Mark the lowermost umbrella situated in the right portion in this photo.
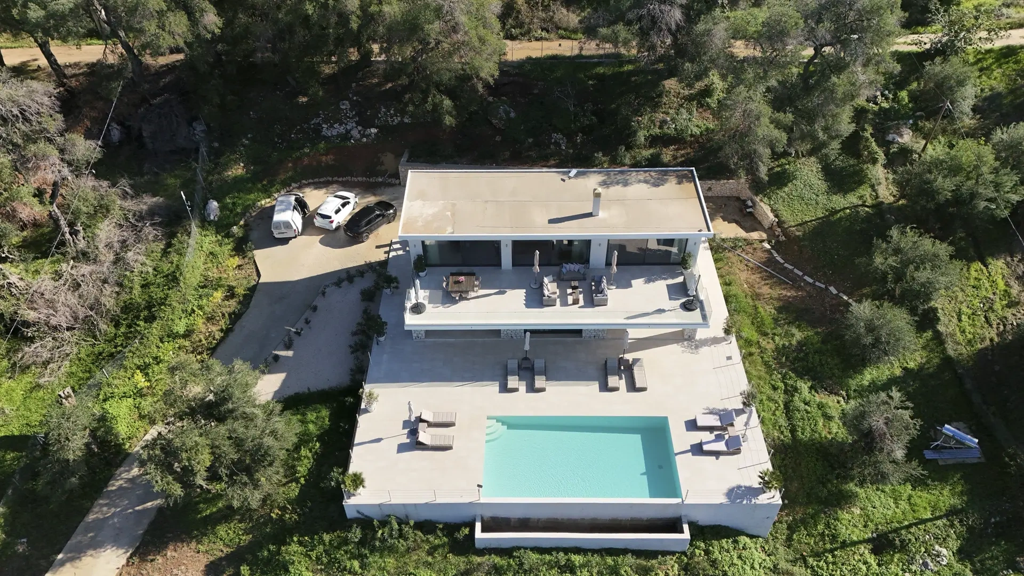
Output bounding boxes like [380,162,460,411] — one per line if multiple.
[738,407,757,443]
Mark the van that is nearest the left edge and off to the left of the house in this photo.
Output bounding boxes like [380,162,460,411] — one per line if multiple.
[269,191,301,234]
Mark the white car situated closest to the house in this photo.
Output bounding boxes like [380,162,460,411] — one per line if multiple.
[309,191,359,231]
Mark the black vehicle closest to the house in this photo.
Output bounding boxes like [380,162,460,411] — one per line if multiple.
[339,199,398,242]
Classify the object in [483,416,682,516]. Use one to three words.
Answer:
swimming pool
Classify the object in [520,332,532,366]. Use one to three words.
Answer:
umbrella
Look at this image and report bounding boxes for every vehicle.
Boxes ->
[309,191,359,231]
[269,191,301,234]
[339,199,398,242]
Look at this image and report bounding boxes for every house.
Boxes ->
[398,167,714,342]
